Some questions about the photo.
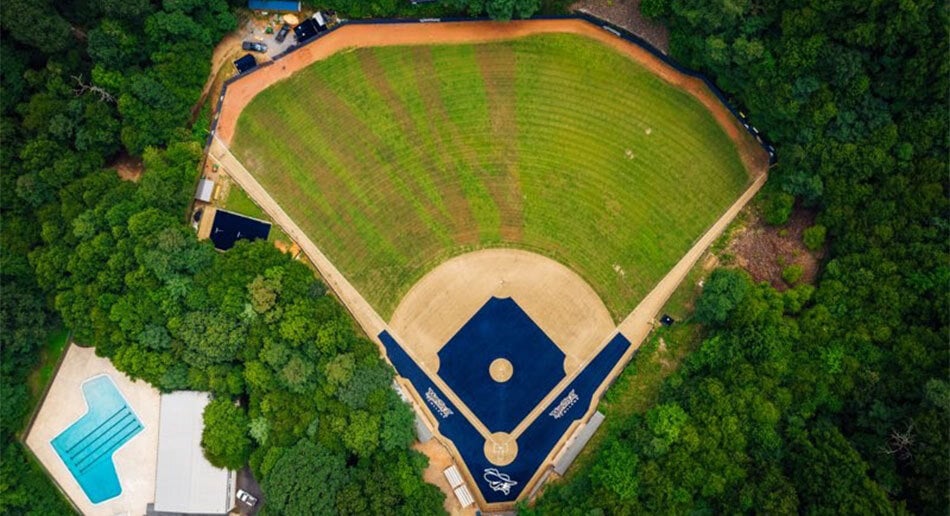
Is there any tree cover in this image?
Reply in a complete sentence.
Yes, some tree cover is visible.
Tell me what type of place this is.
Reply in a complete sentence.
The area seen from above is a sports ground.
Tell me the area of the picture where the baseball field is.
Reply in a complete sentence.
The baseball field is in the center part of the image.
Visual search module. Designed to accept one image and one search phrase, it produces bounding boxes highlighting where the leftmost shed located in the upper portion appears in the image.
[196,180,217,202]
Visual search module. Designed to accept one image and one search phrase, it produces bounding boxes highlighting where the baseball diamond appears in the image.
[209,19,770,510]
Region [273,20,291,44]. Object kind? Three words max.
vehicle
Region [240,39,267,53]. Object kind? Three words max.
vehicle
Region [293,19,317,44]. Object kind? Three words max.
shed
